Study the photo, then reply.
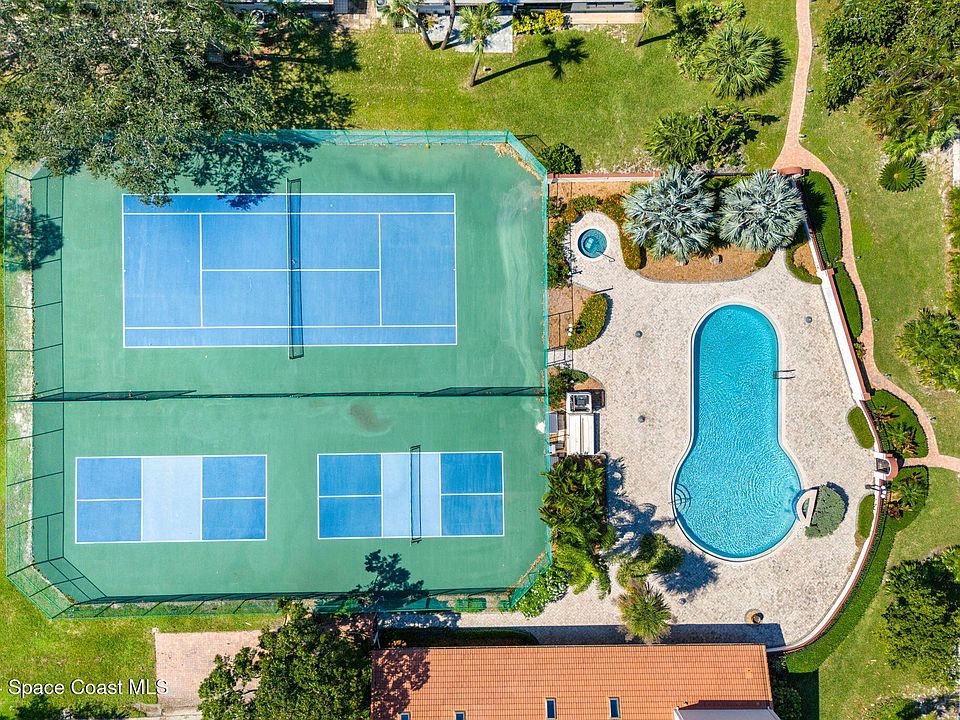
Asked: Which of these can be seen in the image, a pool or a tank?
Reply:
pool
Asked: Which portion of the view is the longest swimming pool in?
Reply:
right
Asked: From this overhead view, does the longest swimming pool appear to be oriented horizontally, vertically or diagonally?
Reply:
vertically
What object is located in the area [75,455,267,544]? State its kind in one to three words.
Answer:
sports court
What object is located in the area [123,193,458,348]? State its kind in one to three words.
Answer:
tennis court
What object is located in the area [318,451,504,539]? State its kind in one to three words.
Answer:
sports court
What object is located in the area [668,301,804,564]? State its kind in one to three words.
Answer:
swimming pool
